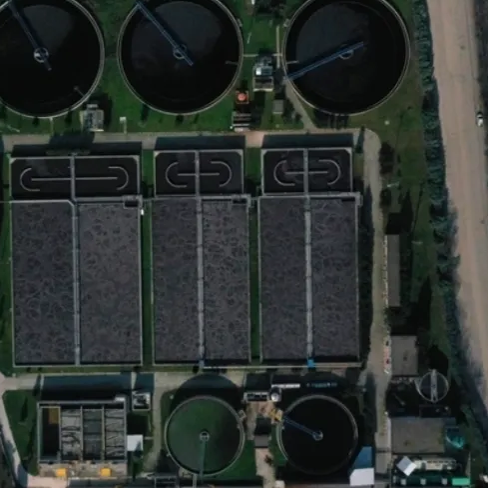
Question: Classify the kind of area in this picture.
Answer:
industrial area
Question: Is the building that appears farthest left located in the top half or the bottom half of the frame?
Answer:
top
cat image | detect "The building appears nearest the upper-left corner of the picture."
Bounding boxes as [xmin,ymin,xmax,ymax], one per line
[81,104,104,131]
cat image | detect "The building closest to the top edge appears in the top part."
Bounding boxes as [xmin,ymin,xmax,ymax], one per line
[252,59,273,92]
